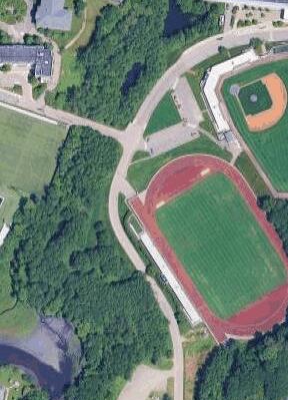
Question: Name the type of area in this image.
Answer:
sports ground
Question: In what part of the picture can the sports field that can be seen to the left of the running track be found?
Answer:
left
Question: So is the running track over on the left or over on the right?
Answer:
right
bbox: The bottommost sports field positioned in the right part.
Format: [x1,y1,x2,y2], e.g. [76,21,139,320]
[155,174,288,321]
